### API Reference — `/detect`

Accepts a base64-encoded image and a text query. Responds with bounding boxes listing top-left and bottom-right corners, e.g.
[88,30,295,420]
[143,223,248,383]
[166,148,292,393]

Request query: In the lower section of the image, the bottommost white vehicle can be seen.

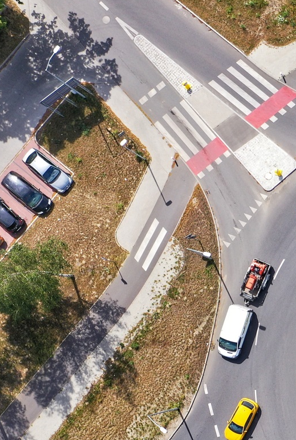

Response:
[215,304,253,360]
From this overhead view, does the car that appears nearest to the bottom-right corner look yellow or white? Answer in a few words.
yellow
